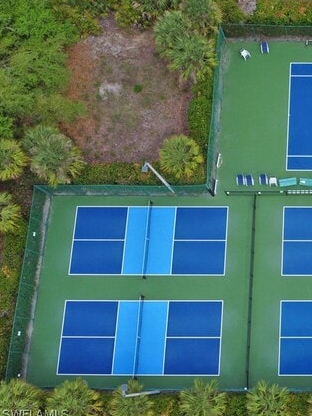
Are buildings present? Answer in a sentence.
No, no building is visible in the view.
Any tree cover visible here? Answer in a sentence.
Yes, tree cover can be seen from above here.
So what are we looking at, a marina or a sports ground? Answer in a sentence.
What you see here is a sports ground.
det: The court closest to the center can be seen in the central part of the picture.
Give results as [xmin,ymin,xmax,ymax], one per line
[69,207,228,275]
